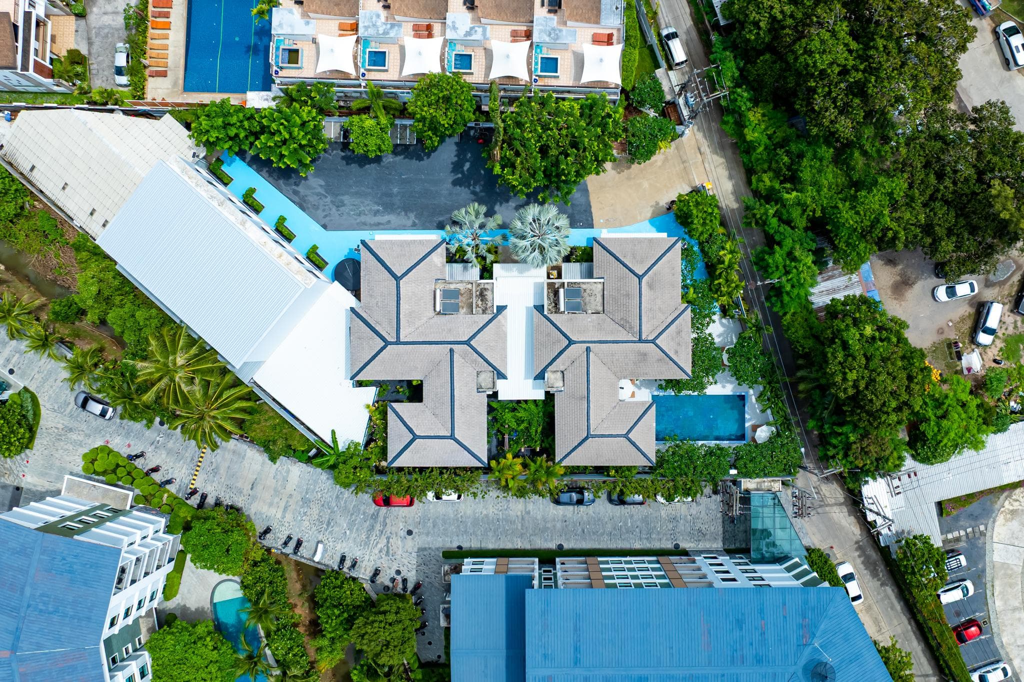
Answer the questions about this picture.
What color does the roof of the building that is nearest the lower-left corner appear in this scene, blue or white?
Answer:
blue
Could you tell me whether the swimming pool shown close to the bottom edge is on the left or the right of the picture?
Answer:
left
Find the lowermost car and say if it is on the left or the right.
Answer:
right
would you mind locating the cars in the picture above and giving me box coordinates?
[426,487,464,506]
[949,618,987,647]
[655,489,695,509]
[930,549,969,577]
[972,300,1006,347]
[374,490,415,509]
[931,279,979,302]
[553,487,595,507]
[608,488,646,508]
[993,20,1024,73]
[659,26,689,71]
[966,659,1013,682]
[835,561,864,606]
[74,392,116,420]
[111,43,134,88]
[939,577,975,606]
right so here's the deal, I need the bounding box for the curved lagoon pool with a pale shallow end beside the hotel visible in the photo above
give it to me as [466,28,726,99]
[210,577,278,682]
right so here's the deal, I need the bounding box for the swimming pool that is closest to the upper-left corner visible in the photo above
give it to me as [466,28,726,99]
[180,0,274,95]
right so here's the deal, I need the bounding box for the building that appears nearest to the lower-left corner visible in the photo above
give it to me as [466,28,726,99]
[0,481,181,682]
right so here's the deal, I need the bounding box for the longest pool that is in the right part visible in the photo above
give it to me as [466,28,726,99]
[649,392,747,444]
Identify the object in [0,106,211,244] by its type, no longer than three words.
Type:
warehouse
